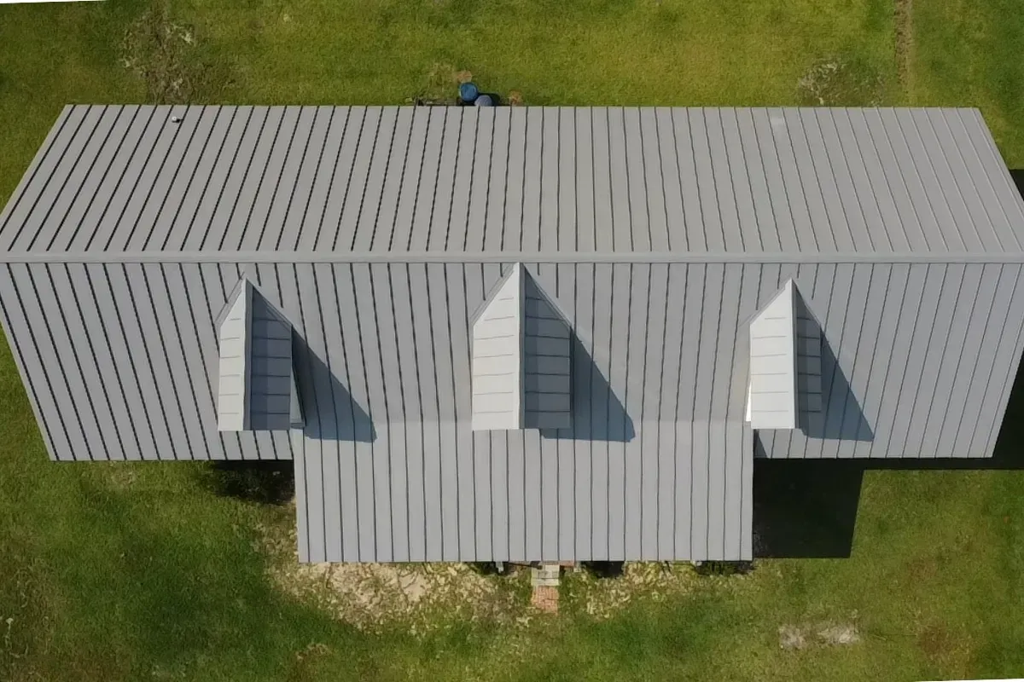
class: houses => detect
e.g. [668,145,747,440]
[0,104,1024,565]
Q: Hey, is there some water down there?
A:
No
